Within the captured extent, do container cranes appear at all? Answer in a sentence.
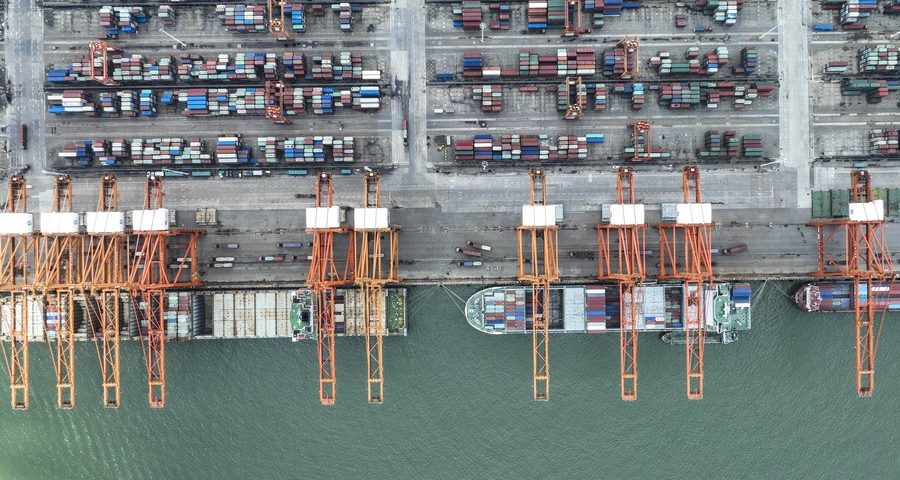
Yes, looking at the shot, I can spot a container crane.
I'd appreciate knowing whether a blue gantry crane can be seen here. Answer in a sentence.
No, the frame has no blue gantry crane in it.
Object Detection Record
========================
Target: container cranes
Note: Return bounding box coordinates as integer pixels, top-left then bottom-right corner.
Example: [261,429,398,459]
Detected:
[89,40,126,91]
[268,0,296,42]
[650,166,716,401]
[130,172,204,407]
[82,173,160,407]
[558,75,583,122]
[556,0,582,40]
[33,173,121,408]
[353,170,400,404]
[512,168,566,403]
[592,167,647,402]
[623,120,651,167]
[0,174,77,408]
[267,78,294,125]
[802,164,897,398]
[613,36,641,84]
[305,171,357,404]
